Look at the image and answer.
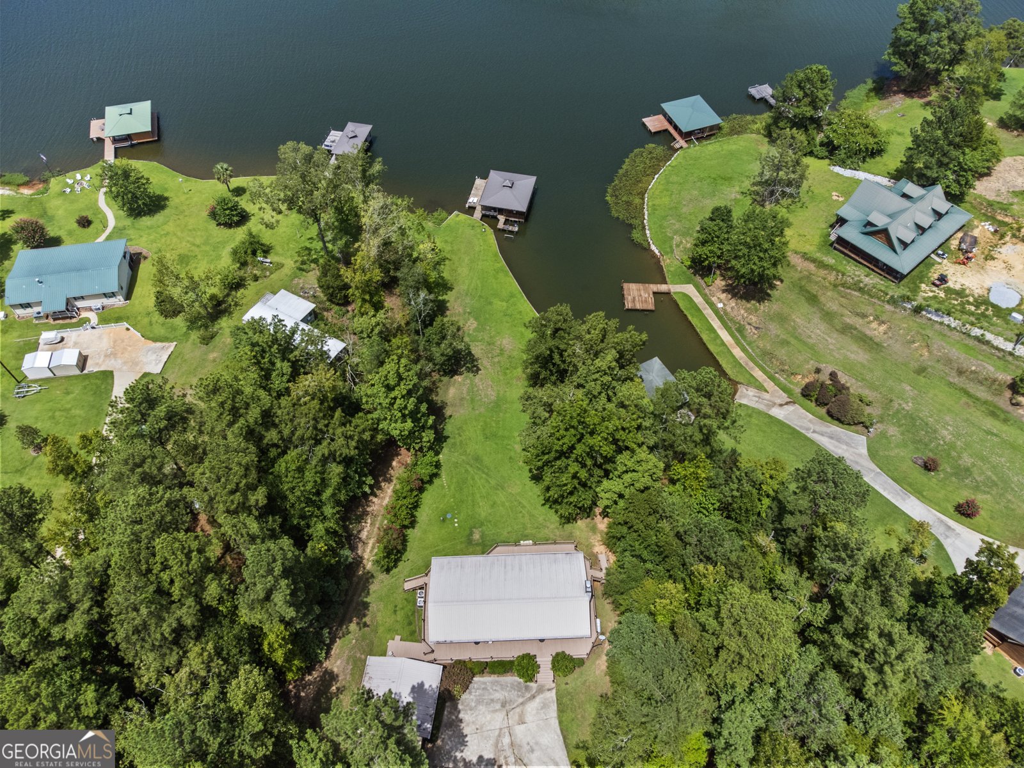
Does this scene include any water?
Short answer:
Yes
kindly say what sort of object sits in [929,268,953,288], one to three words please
vehicle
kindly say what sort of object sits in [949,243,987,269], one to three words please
work vehicle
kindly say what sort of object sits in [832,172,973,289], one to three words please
house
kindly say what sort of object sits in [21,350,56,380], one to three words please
shed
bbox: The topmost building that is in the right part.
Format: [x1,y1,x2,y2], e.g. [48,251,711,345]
[641,94,723,151]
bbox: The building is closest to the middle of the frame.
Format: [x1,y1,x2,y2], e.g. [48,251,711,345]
[637,357,671,393]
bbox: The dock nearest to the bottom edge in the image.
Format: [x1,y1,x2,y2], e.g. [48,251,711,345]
[622,278,672,314]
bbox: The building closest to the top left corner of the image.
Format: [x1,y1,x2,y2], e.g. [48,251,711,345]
[88,100,159,161]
